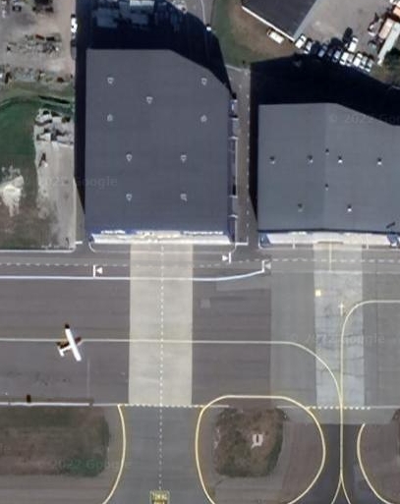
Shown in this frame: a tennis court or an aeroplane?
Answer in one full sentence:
I can see an aeroplane in this picture.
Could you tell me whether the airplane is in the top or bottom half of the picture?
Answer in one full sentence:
You can find the airplane in the bottom half.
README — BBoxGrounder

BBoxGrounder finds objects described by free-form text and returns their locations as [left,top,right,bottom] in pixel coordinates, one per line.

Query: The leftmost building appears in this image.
[85,48,242,246]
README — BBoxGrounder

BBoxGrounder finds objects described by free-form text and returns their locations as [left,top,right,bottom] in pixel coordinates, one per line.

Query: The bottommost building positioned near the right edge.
[258,103,400,246]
